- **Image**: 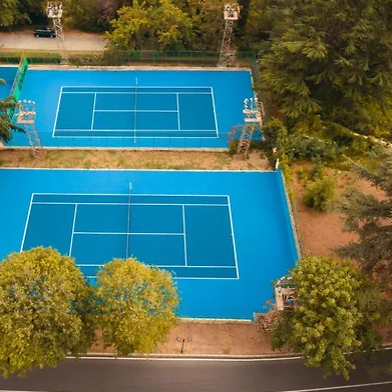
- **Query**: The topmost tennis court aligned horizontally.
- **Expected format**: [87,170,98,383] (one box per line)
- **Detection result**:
[4,68,265,149]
